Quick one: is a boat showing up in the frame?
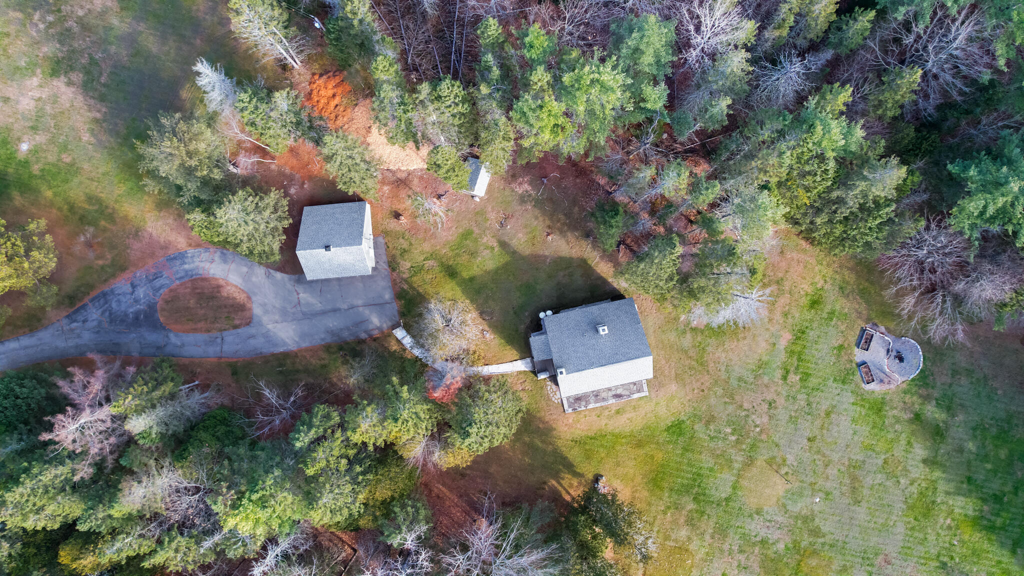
No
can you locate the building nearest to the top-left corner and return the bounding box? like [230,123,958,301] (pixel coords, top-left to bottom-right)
[296,201,376,281]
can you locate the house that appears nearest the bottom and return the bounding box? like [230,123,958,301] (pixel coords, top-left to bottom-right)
[529,297,654,398]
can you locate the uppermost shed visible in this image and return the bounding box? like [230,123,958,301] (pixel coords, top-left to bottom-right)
[460,160,491,193]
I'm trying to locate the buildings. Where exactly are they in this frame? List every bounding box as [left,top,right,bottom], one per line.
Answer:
[296,201,376,281]
[529,297,654,398]
[460,160,491,193]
